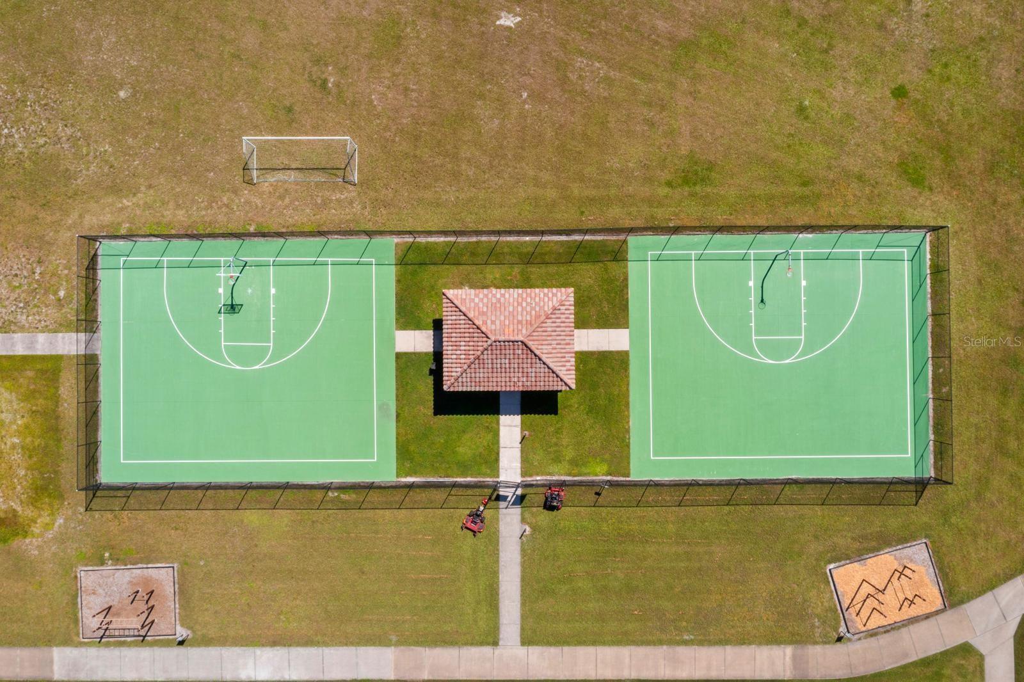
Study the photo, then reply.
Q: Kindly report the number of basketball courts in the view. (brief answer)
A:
two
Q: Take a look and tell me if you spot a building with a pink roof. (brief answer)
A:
Yes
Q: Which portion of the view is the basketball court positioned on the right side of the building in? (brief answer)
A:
right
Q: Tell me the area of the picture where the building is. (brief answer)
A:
center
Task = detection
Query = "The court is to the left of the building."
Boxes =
[100,239,396,483]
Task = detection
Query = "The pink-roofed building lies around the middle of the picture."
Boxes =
[441,287,576,392]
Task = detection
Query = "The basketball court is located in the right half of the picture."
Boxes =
[629,233,930,478]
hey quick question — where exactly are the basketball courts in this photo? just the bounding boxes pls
[629,233,930,478]
[100,239,396,483]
